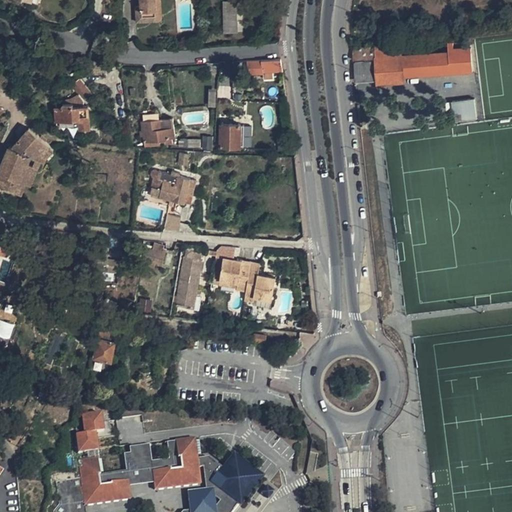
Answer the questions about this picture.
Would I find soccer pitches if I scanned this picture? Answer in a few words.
Yes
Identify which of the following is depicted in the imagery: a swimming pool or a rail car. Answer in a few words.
swimming pool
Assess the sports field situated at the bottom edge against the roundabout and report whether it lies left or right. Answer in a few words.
right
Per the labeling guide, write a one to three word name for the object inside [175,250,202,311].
house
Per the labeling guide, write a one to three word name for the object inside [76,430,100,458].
building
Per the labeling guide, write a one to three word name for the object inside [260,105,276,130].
swimming pool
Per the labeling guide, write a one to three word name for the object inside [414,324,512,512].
sports field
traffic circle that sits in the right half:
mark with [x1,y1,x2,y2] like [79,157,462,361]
[318,353,382,417]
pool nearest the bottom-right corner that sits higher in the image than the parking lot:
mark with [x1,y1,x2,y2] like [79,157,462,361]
[269,288,294,316]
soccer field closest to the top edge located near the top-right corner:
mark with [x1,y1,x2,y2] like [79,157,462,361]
[476,34,512,120]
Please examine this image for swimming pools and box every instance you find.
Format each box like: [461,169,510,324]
[182,110,208,126]
[269,288,294,316]
[268,86,279,98]
[260,105,276,130]
[137,202,167,226]
[66,452,74,467]
[228,290,243,314]
[0,257,11,284]
[176,0,195,32]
